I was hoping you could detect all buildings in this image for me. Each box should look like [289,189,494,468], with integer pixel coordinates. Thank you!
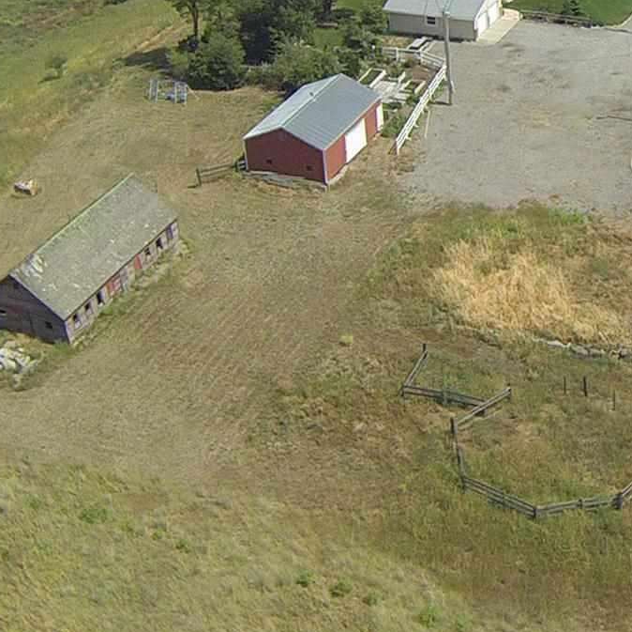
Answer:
[0,176,181,344]
[383,0,503,42]
[242,74,383,189]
